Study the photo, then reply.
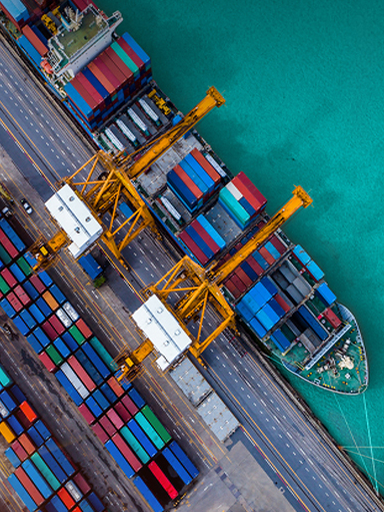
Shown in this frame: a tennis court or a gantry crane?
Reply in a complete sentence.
Looking from above, you can make out a gantry crane.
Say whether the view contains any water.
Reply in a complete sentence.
Yes, some water is visible.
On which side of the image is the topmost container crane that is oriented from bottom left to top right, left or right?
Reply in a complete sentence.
The topmost container crane that is oriented from bottom left to top right appears in the left half of the scene.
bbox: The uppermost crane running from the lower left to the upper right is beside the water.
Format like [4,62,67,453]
[18,87,235,269]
